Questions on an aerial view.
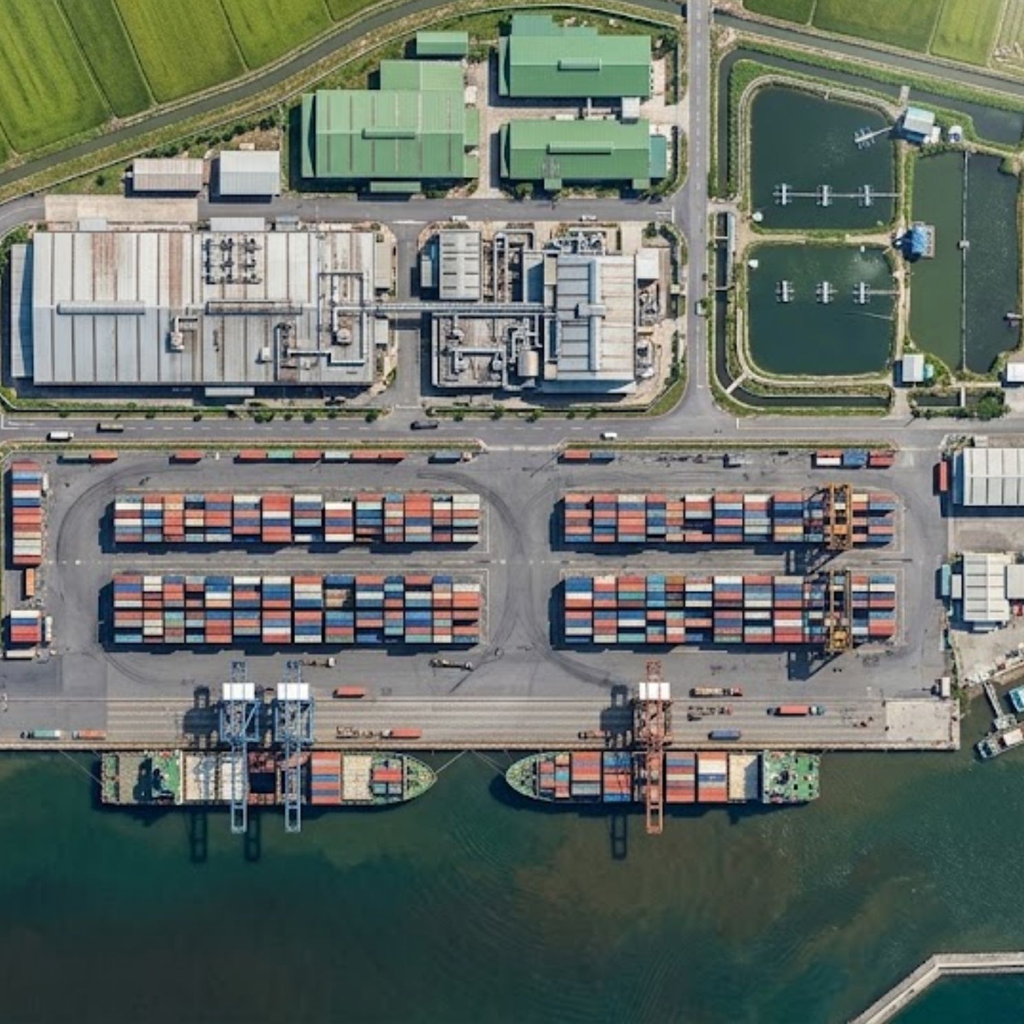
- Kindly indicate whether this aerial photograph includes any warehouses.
Yes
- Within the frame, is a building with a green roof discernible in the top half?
Yes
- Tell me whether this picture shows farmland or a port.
port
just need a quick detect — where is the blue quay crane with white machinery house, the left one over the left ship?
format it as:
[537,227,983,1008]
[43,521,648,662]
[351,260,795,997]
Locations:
[216,662,262,834]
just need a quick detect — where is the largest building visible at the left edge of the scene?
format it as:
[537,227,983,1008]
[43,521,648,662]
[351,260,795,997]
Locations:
[11,217,390,396]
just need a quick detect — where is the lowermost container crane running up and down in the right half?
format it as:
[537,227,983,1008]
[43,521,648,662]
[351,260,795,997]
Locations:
[632,662,677,834]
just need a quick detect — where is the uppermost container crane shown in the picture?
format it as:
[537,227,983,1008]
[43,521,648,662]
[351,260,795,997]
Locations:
[823,483,856,550]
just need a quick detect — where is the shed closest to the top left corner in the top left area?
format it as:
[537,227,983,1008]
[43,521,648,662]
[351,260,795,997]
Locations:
[128,159,202,190]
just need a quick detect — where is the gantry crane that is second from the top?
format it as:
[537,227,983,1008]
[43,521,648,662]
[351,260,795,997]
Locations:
[823,570,856,652]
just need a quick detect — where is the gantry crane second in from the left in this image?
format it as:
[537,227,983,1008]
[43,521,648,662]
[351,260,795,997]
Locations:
[270,662,315,834]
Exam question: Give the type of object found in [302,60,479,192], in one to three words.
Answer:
warehouse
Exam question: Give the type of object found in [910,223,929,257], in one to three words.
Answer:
shed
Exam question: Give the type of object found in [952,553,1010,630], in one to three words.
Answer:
building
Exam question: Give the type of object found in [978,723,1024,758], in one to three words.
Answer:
boat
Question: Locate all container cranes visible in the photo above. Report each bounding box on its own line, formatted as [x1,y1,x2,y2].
[216,662,262,834]
[823,570,856,652]
[632,662,677,834]
[270,662,315,834]
[823,483,856,550]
